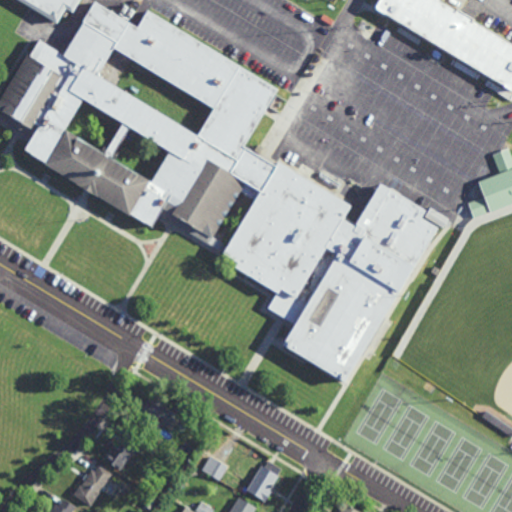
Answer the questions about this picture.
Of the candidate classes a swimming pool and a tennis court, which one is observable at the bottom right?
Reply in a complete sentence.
Visible at the bottom right is a tennis court.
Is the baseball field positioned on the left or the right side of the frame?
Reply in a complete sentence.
The baseball field appears in the right half of the scene.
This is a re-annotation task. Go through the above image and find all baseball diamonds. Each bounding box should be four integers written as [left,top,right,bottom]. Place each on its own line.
[392,204,512,436]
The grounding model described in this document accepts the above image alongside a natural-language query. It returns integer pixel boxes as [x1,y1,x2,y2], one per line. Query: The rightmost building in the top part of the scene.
[468,148,512,218]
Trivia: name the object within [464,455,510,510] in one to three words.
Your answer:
tennis court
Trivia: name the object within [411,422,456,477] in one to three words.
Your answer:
tennis court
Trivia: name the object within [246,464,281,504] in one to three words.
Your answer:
house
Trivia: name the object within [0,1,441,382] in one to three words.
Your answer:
building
